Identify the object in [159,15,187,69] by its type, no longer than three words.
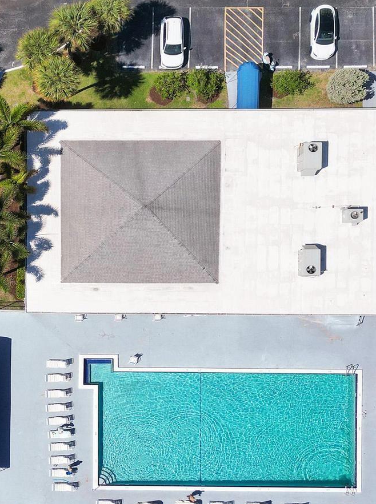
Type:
car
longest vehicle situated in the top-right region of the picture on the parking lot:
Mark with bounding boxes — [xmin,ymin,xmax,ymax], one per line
[310,5,339,61]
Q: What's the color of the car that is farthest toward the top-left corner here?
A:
white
